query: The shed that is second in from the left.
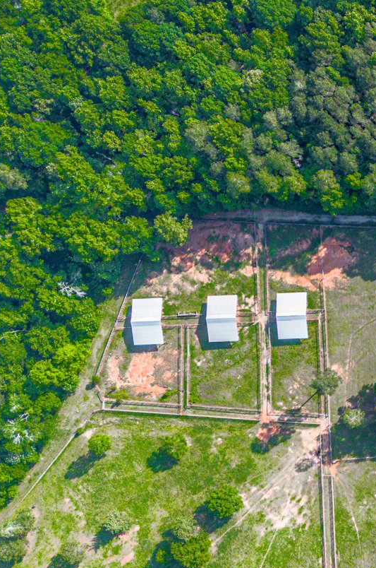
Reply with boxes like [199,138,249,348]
[206,294,240,342]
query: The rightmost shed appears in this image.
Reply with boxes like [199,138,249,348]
[276,292,309,339]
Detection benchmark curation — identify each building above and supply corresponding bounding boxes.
[276,292,309,339]
[206,294,240,342]
[130,298,166,345]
